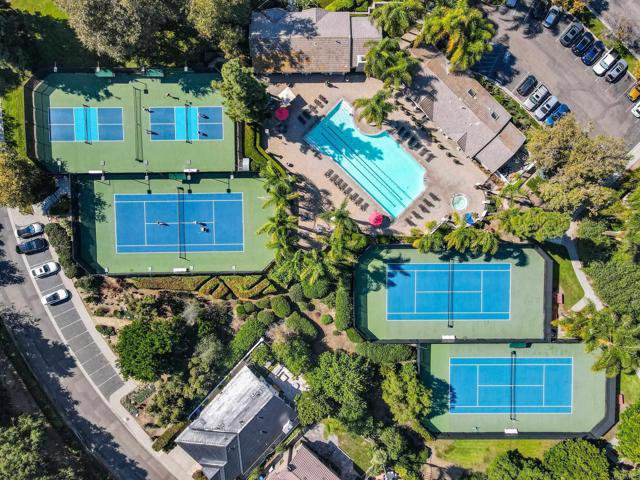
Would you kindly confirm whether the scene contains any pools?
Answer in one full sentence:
Yes, the frame does contain a pool.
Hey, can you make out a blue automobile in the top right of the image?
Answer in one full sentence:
Yes, in the top right of the image there is a blue automobile.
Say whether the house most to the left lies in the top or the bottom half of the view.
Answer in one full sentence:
The house most to the left is in the bottom half of the image.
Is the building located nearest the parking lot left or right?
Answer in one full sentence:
The building located nearest the parking lot appears in the right half of the scene.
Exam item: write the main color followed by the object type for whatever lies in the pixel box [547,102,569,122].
blue car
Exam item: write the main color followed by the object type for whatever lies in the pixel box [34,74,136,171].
green sports court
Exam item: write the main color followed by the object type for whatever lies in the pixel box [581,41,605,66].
blue car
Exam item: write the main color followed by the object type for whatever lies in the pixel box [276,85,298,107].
white umbrella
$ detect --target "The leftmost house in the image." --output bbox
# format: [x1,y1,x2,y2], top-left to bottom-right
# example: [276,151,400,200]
[176,366,298,480]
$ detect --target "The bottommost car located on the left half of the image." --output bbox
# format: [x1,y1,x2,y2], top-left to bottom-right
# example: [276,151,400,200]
[42,289,70,304]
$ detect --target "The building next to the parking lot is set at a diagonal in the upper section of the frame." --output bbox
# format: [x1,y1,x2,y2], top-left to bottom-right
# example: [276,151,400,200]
[397,49,526,173]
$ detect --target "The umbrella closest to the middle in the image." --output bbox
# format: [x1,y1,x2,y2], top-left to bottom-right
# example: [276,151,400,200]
[369,212,383,226]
